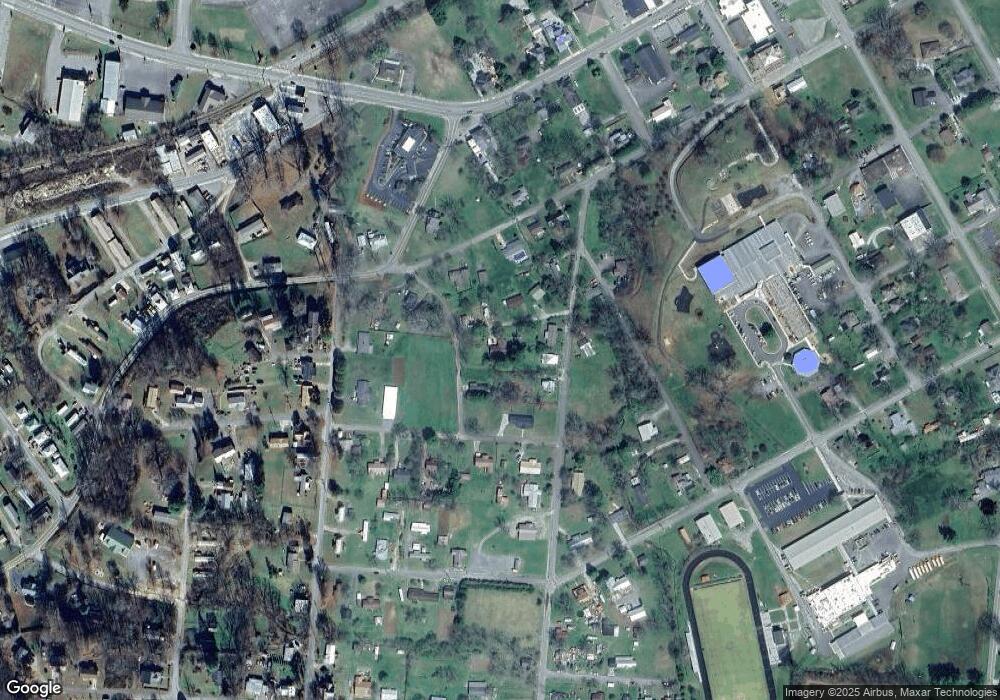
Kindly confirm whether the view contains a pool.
No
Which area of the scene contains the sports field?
bottom right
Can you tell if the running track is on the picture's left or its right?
right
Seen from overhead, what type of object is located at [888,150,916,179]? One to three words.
building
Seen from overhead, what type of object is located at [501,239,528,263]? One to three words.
house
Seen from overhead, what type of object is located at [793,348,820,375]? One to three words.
building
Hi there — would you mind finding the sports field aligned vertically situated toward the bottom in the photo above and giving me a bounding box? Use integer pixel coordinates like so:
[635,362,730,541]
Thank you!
[690,556,771,700]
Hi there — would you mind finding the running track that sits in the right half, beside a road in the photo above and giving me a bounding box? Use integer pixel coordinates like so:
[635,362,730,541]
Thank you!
[683,549,779,700]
